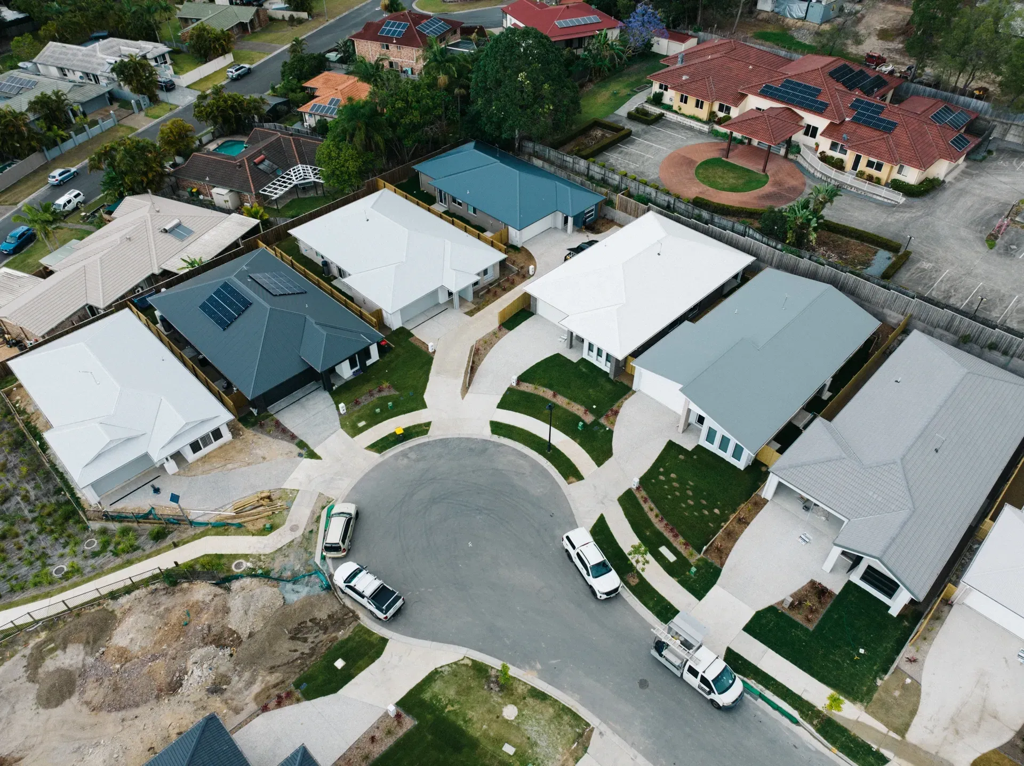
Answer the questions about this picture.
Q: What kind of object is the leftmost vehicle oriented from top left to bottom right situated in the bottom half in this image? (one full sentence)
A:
I'd identify the leftmost vehicle oriented from top left to bottom right situated in the bottom half as a truck.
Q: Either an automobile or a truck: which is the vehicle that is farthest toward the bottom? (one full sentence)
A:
The vehicle that is farthest toward the bottom in the image is a truck.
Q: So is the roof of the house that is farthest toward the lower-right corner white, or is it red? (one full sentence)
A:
The roof of the house that is farthest toward the lower-right corner looks white in the image.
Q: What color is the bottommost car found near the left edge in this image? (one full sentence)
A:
From above, the bottommost car found near the left edge appears blue.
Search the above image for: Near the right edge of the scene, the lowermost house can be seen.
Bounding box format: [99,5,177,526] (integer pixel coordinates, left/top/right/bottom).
[953,504,1024,640]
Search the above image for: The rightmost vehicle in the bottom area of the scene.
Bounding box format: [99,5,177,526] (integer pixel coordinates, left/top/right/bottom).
[650,618,747,717]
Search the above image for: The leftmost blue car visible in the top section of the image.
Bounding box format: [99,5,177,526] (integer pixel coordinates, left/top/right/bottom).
[0,227,39,254]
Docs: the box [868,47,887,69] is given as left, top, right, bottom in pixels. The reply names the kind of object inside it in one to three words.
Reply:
vehicle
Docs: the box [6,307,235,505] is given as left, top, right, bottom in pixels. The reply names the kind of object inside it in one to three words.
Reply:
house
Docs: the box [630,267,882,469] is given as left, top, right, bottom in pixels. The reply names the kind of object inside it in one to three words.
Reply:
house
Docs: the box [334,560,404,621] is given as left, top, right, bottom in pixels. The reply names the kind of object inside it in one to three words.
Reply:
truck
